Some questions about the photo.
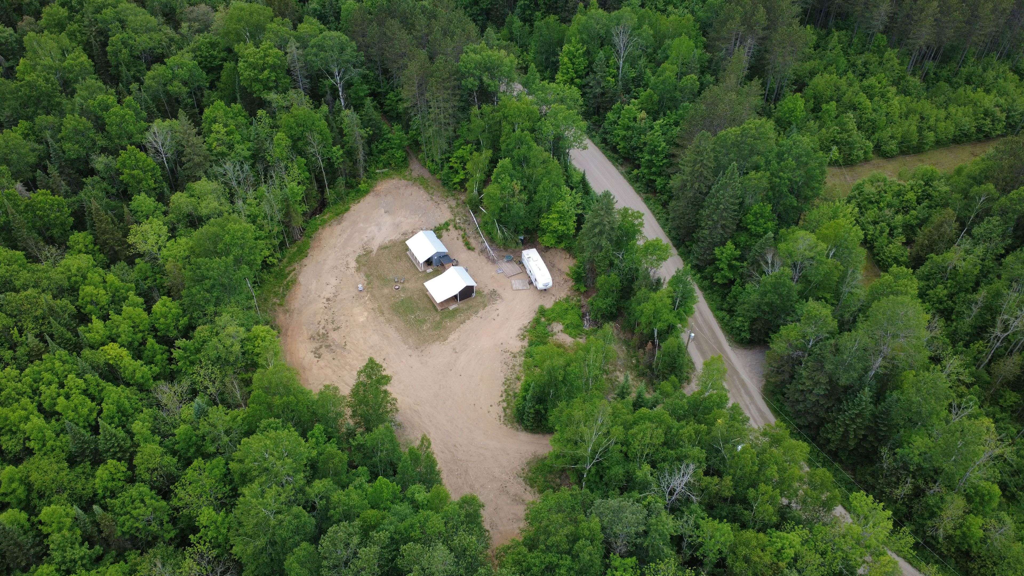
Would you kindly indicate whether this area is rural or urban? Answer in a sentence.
This place is rural.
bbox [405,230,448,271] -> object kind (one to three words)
building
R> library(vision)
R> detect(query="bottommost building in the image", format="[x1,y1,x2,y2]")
[423,266,477,310]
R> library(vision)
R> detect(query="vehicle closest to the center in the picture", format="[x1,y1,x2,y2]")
[522,249,553,293]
